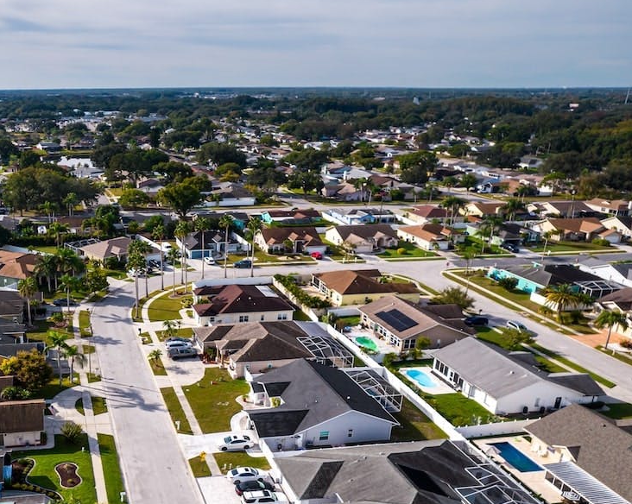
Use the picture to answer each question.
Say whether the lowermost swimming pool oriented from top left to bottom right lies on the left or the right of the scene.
right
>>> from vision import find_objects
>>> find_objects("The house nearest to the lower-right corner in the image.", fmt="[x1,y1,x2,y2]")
[523,410,632,504]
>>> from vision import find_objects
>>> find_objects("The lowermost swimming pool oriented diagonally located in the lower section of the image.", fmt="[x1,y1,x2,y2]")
[485,439,538,474]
